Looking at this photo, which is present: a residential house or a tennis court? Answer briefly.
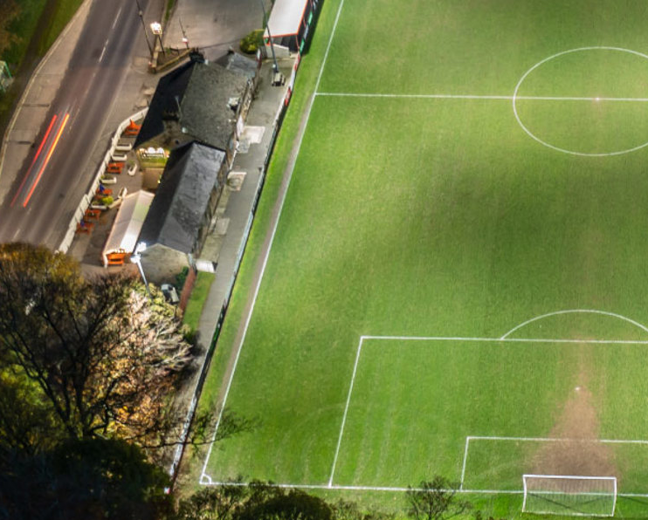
residential house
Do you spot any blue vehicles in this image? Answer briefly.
No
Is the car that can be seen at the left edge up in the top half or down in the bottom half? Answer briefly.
top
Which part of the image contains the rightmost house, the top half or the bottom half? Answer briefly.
top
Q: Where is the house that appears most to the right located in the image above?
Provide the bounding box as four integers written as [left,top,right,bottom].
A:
[132,36,254,282]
